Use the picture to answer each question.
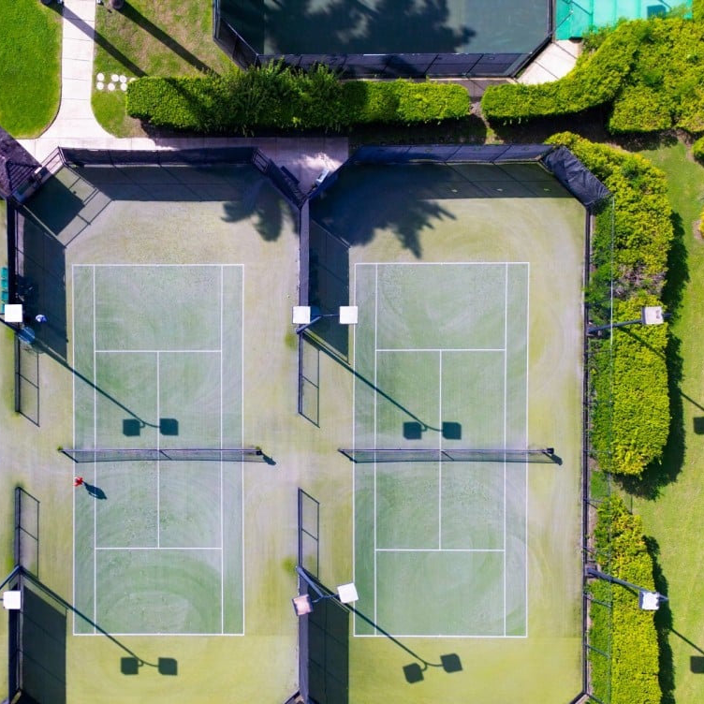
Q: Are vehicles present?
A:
No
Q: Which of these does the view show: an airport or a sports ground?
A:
sports ground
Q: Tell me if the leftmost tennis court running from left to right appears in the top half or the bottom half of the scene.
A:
top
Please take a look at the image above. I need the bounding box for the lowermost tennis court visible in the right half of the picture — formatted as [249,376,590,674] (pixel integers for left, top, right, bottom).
[299,163,587,704]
